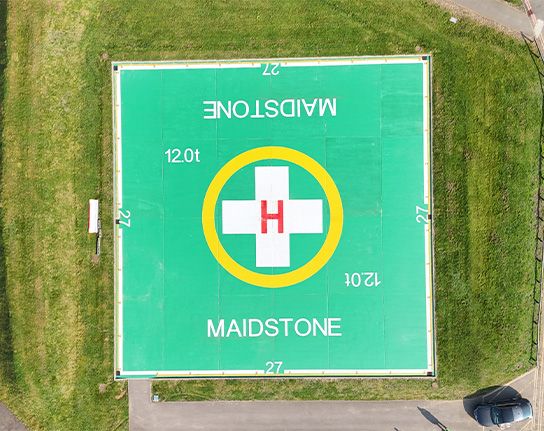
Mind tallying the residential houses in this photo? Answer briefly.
none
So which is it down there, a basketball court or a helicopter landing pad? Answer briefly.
helicopter landing pad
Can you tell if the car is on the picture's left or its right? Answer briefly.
right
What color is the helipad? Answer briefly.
green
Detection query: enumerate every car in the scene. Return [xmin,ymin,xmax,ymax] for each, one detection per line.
[471,398,533,430]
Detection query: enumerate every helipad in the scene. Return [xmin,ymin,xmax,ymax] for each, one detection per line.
[112,54,438,380]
